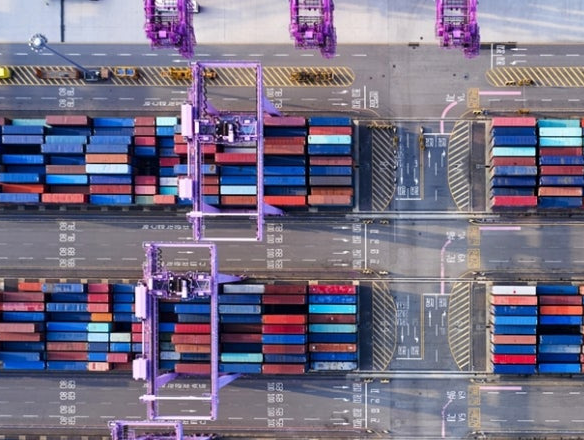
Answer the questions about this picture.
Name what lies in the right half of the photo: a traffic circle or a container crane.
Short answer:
container crane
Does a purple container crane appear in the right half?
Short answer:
Yes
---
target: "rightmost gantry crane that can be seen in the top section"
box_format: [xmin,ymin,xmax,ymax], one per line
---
[433,0,481,62]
